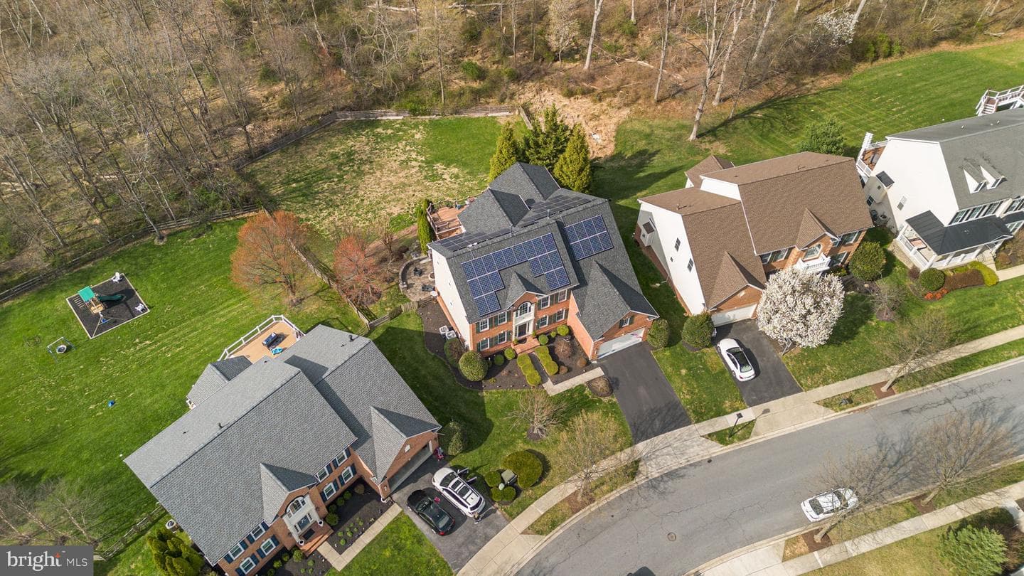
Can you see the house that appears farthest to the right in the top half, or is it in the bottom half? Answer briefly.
top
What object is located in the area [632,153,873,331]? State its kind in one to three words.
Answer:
house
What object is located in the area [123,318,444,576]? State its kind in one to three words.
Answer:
house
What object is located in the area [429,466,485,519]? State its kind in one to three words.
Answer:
car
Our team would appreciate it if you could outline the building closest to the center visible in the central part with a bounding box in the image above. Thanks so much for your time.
[427,165,659,361]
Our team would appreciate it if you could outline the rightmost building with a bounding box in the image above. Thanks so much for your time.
[845,92,1024,274]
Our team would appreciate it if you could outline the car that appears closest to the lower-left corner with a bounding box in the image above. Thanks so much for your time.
[401,487,457,542]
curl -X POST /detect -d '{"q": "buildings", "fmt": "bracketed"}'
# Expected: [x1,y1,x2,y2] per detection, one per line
[427,165,659,361]
[632,153,873,331]
[123,318,444,576]
[845,92,1024,274]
